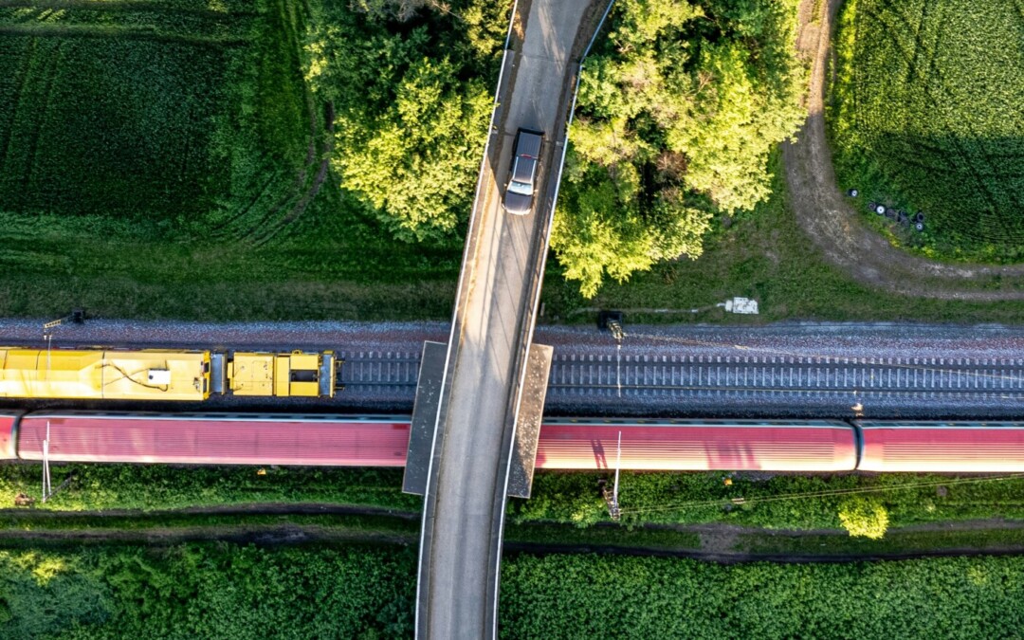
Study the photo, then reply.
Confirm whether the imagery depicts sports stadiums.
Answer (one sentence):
No, there is no sports stadium in the image.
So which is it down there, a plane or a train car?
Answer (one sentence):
It is a train car that can be seen here.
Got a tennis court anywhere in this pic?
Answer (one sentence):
No, there's no tennis court here.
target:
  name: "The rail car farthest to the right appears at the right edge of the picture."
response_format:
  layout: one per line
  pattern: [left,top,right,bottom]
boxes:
[847,419,1024,471]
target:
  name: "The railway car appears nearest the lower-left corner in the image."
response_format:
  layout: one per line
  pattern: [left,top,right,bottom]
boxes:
[0,406,31,458]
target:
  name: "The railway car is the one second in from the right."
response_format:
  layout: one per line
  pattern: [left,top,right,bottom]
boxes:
[534,415,858,470]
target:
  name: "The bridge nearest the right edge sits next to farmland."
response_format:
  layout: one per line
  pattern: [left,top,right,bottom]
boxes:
[402,50,583,640]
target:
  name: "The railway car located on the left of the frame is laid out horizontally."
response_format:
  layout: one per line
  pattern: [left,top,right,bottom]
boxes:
[16,407,413,465]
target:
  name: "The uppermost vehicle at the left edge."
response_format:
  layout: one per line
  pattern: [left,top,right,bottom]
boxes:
[0,344,232,403]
